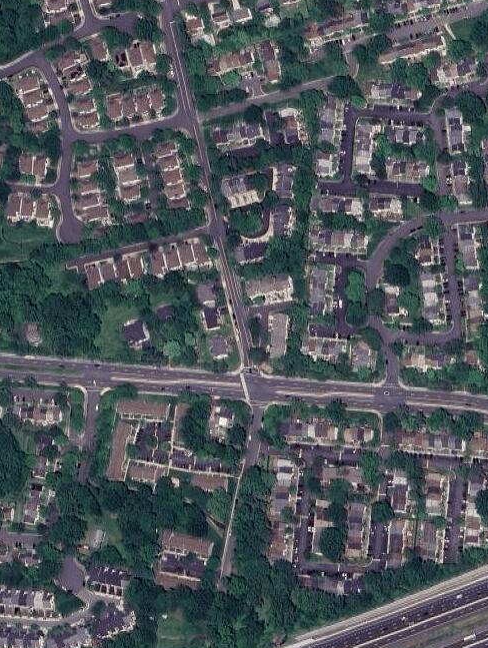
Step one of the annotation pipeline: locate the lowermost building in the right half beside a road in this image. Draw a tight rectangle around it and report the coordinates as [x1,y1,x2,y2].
[298,575,366,597]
